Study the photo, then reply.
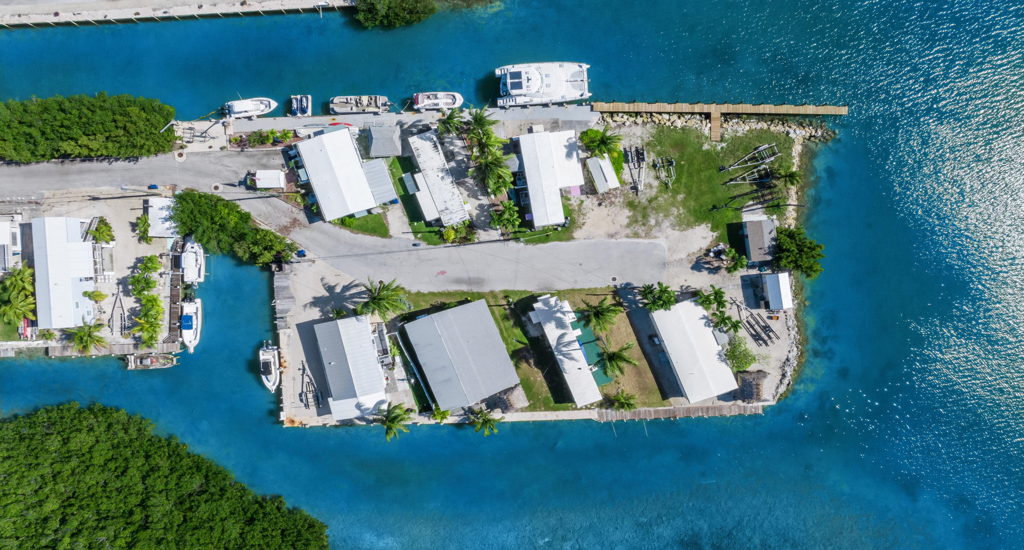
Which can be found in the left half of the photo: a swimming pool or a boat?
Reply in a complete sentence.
Visible in the left half of the photo is a boat.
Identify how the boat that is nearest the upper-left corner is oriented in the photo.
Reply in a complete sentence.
The boat that is nearest the upper-left corner runs from side to side in the image.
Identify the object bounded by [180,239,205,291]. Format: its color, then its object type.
white boat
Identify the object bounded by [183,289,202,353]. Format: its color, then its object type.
white boat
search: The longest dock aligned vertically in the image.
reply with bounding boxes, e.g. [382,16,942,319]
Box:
[170,240,184,343]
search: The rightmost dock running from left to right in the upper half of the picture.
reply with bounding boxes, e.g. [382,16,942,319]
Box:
[593,101,850,116]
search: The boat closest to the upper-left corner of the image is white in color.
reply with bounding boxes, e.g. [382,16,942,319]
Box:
[225,93,279,118]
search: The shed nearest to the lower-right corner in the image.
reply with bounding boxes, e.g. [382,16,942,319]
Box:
[735,372,772,405]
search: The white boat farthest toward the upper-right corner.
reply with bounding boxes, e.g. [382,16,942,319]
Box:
[496,62,592,106]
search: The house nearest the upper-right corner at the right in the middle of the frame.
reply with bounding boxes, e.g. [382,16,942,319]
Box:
[739,215,776,261]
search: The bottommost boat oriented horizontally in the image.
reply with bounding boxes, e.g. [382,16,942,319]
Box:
[119,354,180,370]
